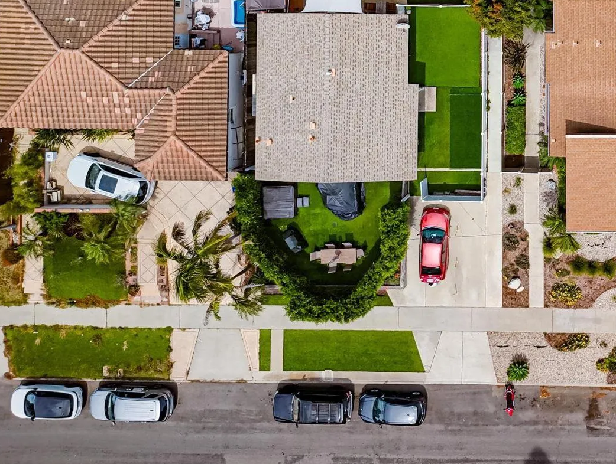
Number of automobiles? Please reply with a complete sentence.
Looking from above, you can make out 6 automobiles.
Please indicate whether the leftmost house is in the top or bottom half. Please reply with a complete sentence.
You can find the leftmost house in the top half.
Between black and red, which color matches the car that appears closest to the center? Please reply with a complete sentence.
From above, the car that appears closest to the center appears red.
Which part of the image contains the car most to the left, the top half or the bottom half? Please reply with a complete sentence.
The car most to the left is in the bottom half of the image.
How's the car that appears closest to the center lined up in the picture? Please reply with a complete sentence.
The car that appears closest to the center is oriented up and down.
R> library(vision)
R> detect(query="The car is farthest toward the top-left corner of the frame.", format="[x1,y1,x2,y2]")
[70,153,162,204]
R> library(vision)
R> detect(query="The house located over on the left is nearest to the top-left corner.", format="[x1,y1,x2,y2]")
[0,0,242,181]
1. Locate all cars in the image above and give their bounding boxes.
[93,385,176,425]
[274,388,355,427]
[70,153,162,204]
[416,205,452,285]
[13,384,87,421]
[359,391,428,430]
